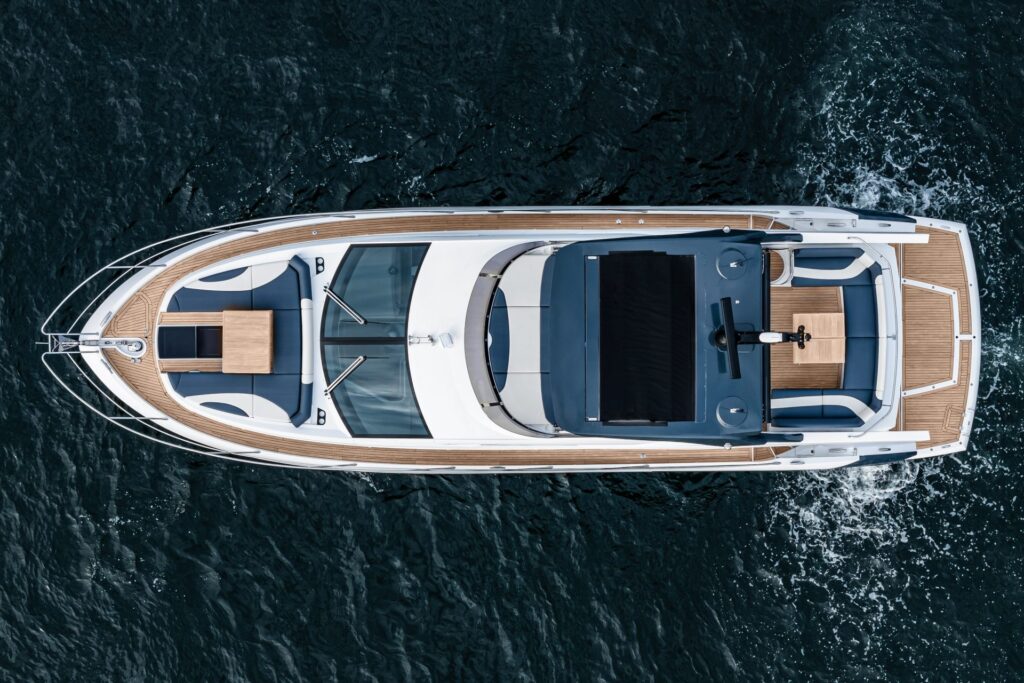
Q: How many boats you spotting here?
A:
1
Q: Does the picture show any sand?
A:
No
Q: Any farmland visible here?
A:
No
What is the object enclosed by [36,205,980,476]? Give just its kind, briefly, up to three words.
boat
